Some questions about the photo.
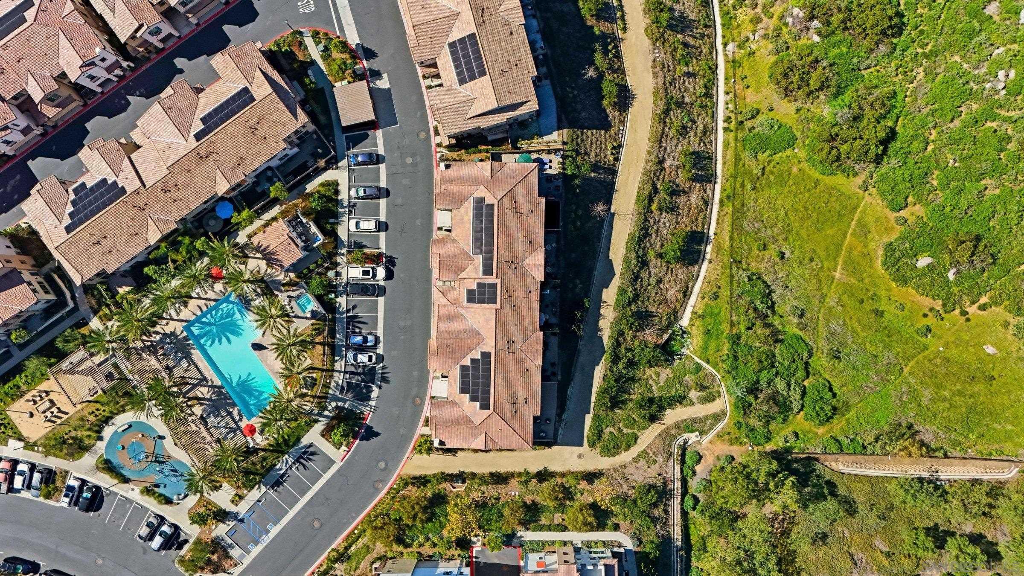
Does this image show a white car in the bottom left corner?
Yes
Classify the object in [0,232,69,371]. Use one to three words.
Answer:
house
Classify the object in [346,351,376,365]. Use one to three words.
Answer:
car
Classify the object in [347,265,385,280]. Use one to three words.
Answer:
vehicle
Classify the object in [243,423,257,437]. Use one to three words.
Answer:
umbrella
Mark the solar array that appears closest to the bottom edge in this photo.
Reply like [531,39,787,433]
[459,352,490,408]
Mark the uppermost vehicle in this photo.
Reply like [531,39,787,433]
[348,151,376,165]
